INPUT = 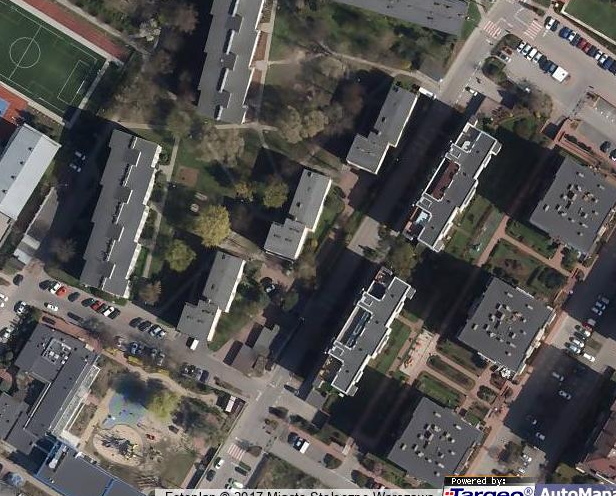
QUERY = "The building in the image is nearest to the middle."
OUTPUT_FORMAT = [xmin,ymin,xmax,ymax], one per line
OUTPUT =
[265,169,333,261]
